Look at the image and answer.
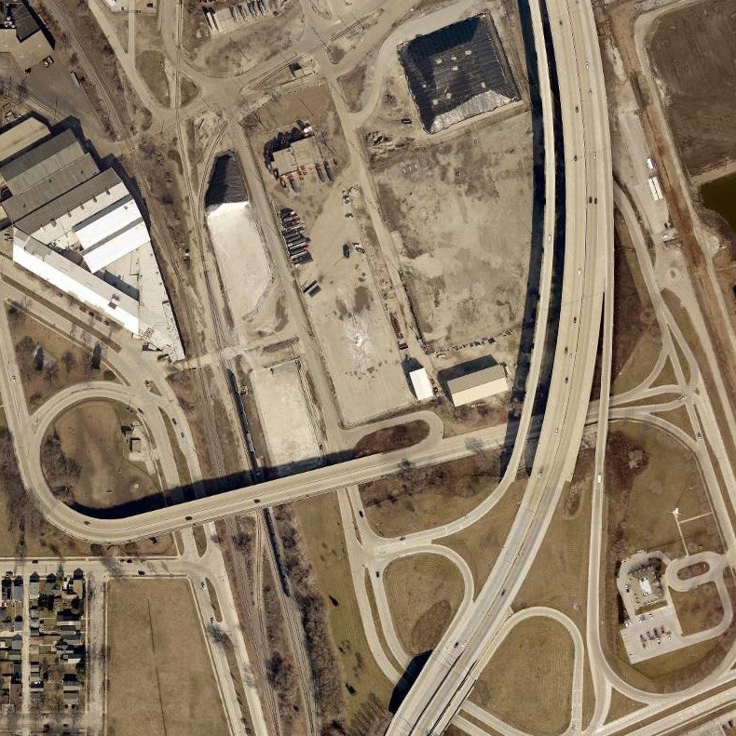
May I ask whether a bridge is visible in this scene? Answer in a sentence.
Yes, this view includes a bridge.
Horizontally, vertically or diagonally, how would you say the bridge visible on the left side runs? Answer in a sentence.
The bridge visible on the left side is laid out horizontally.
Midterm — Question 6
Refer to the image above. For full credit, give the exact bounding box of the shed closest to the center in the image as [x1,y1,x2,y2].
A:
[409,367,433,401]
